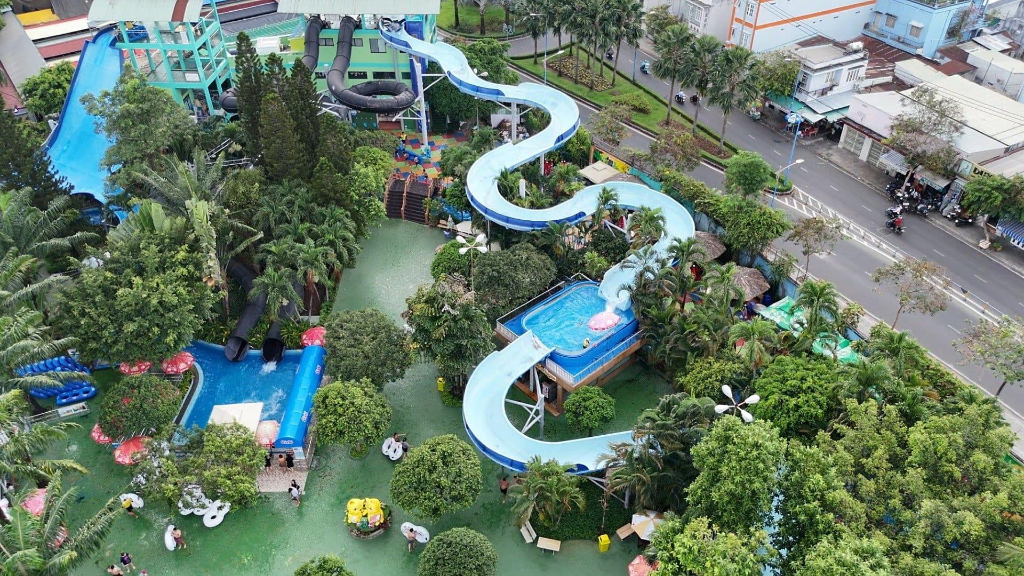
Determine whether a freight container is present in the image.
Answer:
No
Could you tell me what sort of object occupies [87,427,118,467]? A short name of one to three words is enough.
umbrella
